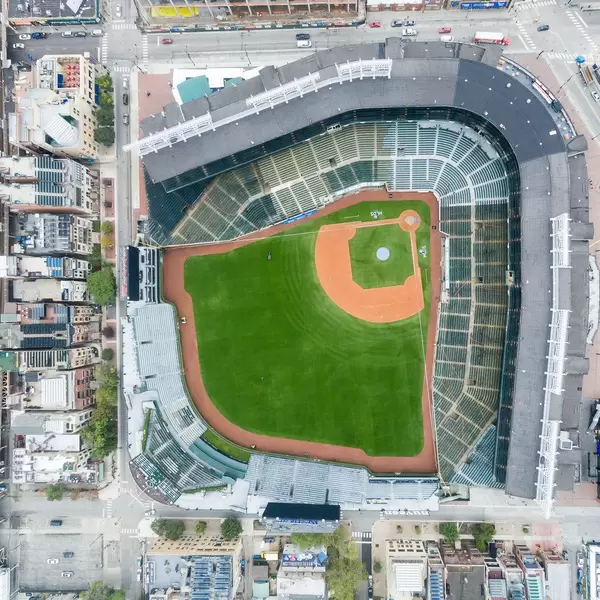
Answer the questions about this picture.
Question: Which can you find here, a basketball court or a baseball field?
baseball field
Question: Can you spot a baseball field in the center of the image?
Yes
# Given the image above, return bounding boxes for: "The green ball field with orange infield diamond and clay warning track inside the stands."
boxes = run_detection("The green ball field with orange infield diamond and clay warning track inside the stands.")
[165,189,445,474]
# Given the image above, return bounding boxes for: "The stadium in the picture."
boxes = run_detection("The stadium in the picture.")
[120,36,595,514]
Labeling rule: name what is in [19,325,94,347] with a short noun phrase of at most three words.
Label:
building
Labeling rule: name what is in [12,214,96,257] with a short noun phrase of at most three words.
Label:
building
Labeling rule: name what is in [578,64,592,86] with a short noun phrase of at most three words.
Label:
vehicle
